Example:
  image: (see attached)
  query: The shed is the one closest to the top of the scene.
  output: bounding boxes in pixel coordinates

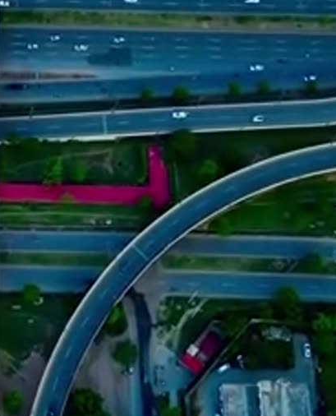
[178,330,220,376]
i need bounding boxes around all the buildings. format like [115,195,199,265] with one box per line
[217,380,249,416]
[178,330,220,376]
[252,377,312,416]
